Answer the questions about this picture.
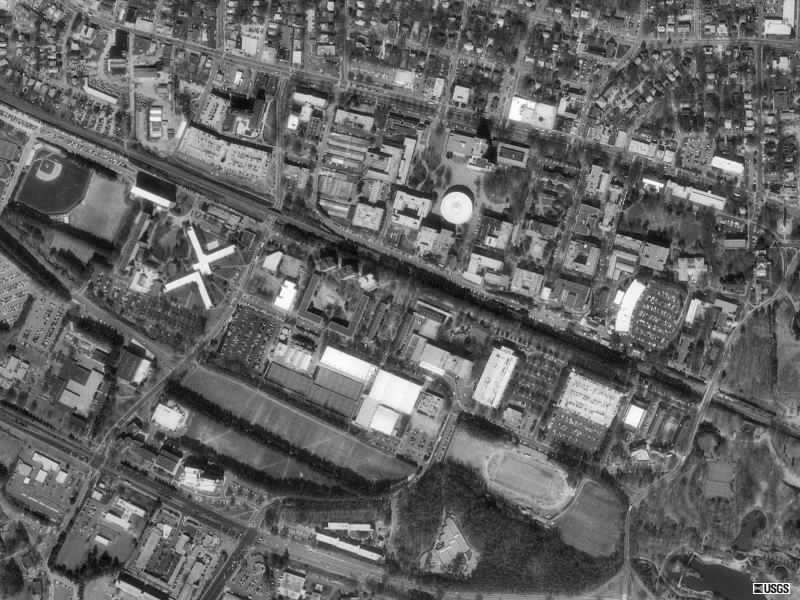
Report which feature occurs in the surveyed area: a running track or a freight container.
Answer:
running track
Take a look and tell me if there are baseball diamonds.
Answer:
Yes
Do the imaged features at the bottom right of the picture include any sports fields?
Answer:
Yes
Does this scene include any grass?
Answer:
Yes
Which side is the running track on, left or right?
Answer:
right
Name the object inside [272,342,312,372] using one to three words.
greenhouse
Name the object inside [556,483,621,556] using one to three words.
sports field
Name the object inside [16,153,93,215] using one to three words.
baseball field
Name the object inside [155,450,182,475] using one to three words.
building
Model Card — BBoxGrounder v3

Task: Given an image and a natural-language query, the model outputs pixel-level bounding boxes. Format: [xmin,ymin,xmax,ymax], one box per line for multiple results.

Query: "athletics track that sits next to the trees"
[486,445,573,509]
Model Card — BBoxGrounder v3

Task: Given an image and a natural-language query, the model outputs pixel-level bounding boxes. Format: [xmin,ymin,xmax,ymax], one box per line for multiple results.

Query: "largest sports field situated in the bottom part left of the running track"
[182,366,415,479]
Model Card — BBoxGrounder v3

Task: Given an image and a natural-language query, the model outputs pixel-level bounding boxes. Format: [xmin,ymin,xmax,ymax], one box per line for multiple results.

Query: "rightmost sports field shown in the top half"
[67,172,128,238]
